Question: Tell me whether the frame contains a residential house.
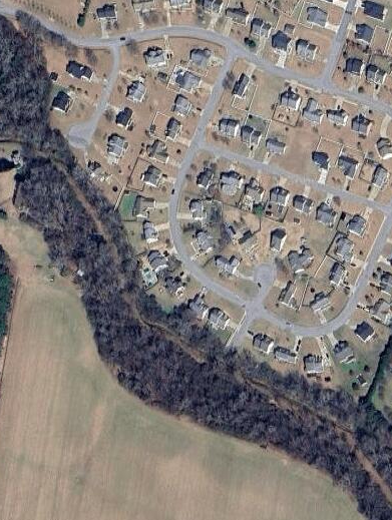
Yes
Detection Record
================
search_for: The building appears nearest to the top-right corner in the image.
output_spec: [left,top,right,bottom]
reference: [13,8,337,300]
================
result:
[361,0,385,20]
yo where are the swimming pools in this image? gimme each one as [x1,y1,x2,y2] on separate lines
[141,270,157,287]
